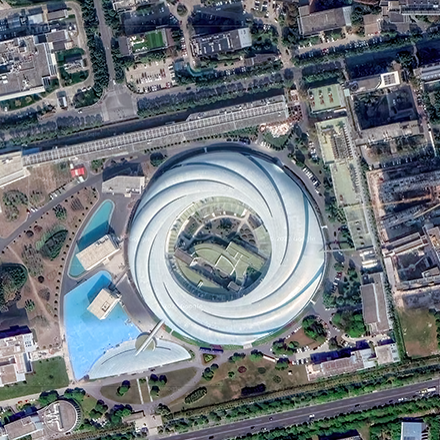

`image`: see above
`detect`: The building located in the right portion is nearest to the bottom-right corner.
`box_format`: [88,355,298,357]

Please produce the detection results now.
[401,422,422,440]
